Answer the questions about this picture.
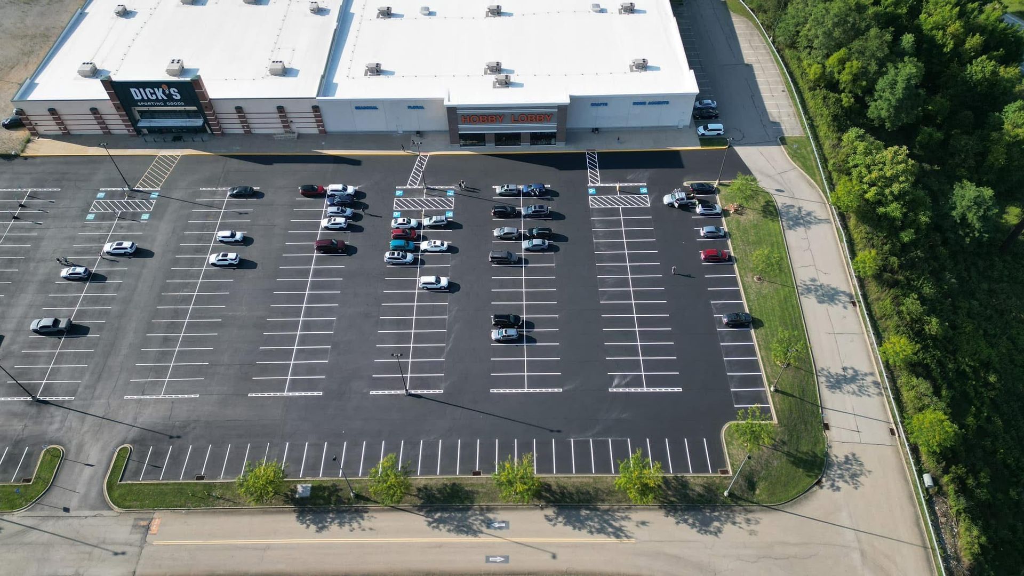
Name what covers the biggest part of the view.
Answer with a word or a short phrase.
paved ground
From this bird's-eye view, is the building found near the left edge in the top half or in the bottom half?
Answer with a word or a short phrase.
top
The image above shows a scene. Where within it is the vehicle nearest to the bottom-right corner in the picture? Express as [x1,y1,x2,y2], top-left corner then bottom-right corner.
[721,313,752,327]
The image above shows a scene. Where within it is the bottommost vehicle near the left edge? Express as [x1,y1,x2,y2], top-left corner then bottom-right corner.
[30,319,73,334]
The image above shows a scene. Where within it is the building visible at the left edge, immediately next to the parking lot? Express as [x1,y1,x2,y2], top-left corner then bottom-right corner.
[11,0,347,137]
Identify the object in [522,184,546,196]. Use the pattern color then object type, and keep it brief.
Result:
blue vehicle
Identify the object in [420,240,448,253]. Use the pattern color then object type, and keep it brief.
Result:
white vehicle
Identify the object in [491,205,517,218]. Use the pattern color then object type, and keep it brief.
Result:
black vehicle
